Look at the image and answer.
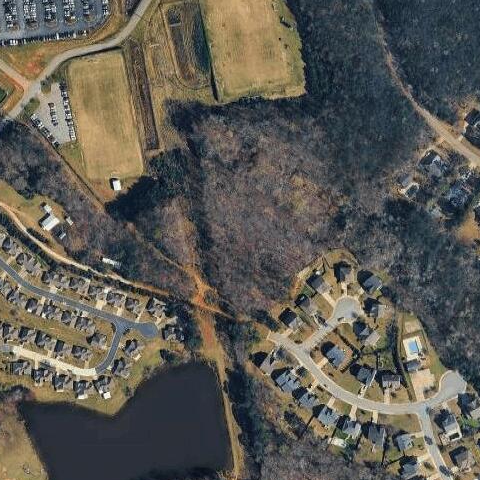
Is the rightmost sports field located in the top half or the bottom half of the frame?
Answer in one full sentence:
It is in the top half that the rightmost sports field appears.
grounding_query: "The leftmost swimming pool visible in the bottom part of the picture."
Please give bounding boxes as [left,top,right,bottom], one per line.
[402,336,423,362]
